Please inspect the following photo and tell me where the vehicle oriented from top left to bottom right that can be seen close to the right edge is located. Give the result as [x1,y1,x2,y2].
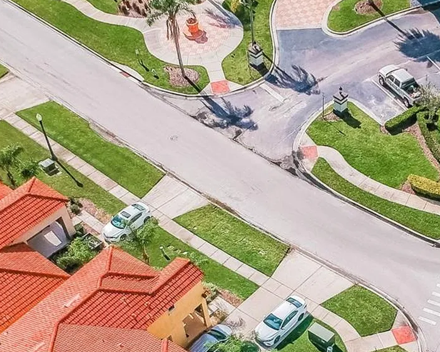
[377,60,425,103]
